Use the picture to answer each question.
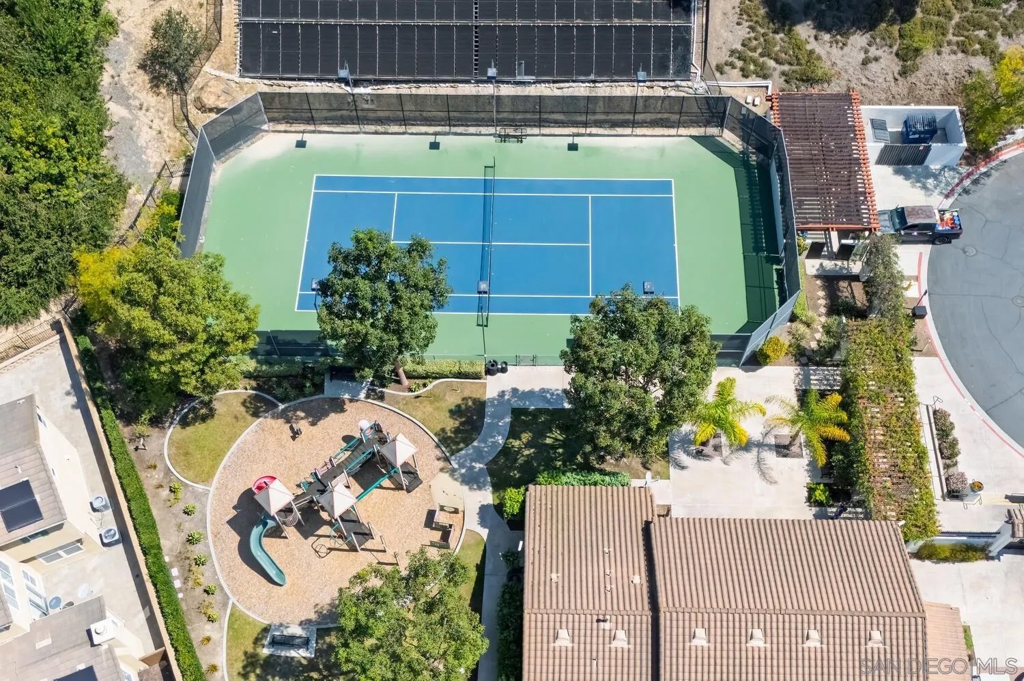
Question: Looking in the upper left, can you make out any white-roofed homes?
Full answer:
No, no white-roofed home can be made out in the upper left.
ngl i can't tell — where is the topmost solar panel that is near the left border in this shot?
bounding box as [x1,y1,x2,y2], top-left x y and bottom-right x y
[0,467,40,530]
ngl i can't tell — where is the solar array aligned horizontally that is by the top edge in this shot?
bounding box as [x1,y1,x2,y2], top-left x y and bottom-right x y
[229,0,695,84]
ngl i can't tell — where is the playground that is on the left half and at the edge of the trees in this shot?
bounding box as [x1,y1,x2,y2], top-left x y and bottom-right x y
[203,391,469,632]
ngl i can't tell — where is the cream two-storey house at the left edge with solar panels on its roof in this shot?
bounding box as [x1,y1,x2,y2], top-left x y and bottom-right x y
[0,395,106,636]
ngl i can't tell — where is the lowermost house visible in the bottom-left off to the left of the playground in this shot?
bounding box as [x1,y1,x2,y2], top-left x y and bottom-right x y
[0,592,148,681]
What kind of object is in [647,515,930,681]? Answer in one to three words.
building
